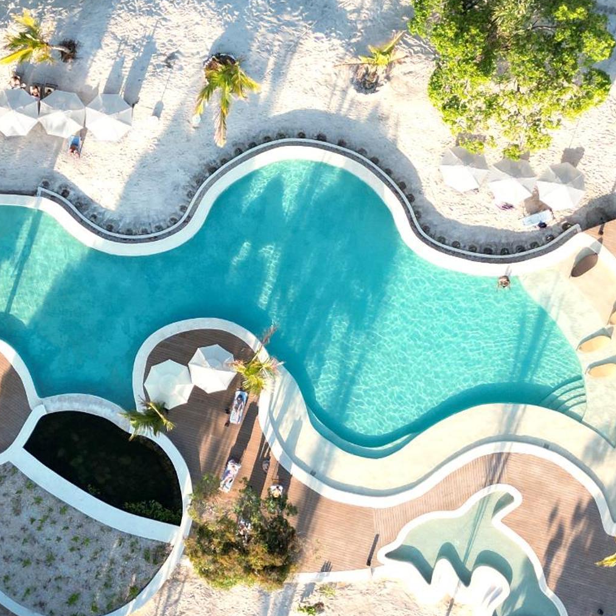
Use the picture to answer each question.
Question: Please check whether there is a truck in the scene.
No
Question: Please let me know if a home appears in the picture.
No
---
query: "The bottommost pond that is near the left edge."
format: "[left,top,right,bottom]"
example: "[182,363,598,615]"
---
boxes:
[29,411,182,520]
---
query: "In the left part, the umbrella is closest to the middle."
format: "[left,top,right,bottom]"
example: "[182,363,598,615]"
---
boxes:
[189,344,238,394]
